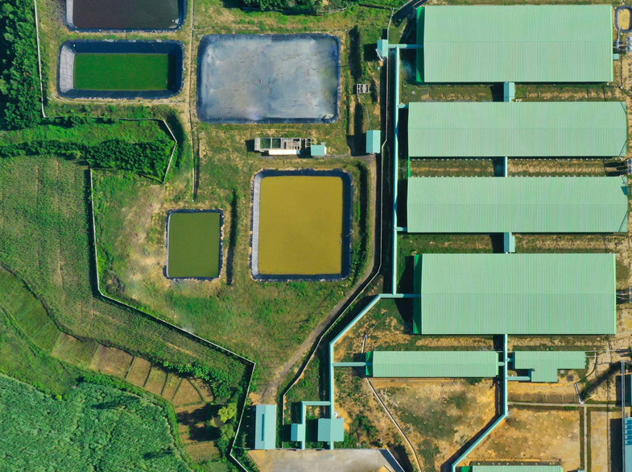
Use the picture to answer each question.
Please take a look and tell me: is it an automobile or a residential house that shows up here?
residential house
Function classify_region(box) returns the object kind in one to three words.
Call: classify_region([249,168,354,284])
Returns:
pond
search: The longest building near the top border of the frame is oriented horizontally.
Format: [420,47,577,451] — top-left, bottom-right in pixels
[418,5,616,83]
